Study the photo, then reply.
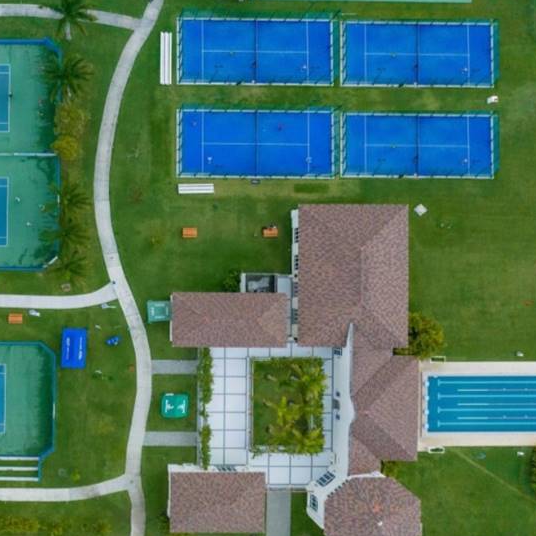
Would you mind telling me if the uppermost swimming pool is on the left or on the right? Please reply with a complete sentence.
You can find the uppermost swimming pool on the right side of the picture.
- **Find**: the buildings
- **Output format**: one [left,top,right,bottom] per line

[289,205,422,536]
[163,464,266,534]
